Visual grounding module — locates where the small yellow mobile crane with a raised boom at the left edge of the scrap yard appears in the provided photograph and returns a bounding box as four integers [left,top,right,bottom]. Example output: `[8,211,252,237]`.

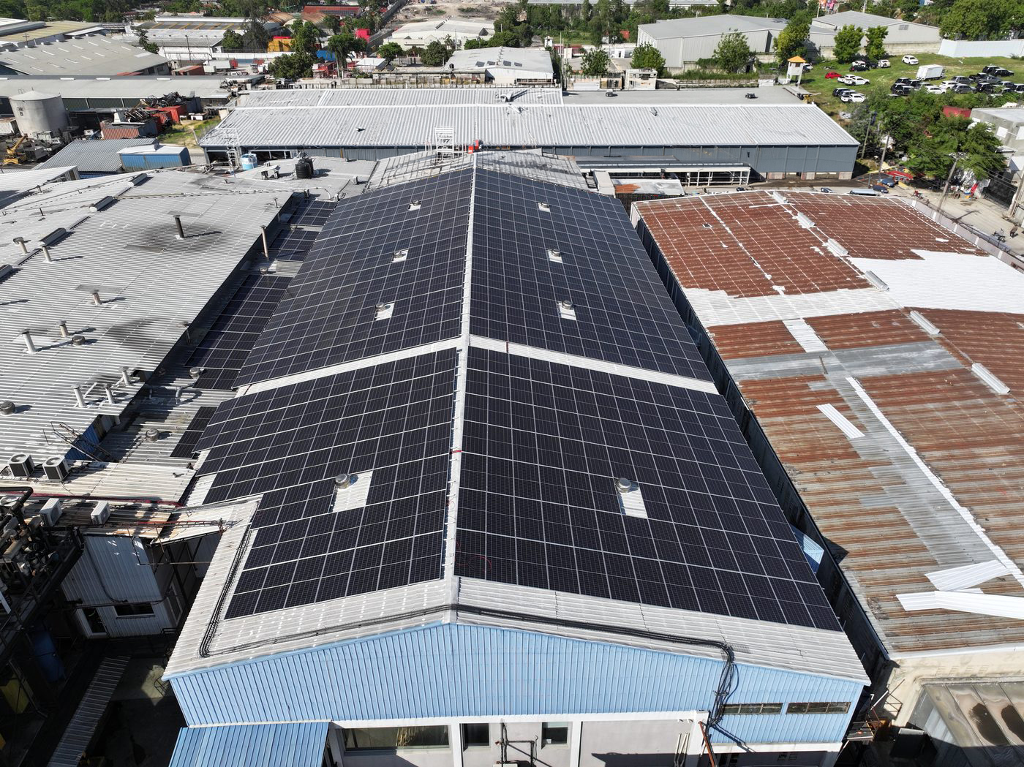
[0,126,35,164]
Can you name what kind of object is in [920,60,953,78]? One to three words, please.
vehicle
